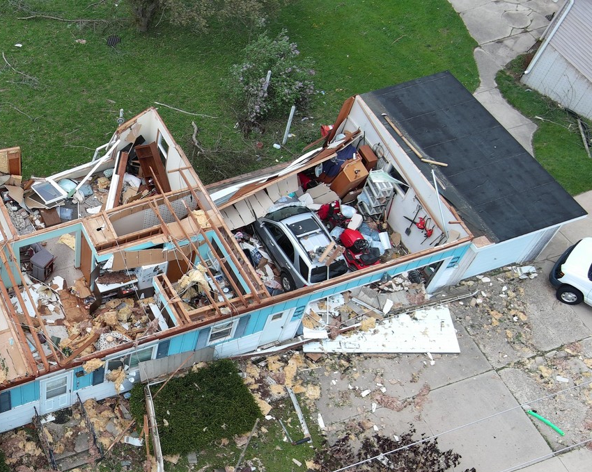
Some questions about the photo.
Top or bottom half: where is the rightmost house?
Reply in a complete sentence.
The rightmost house sits in the top half of the picture.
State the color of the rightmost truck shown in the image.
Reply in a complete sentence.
The rightmost truck looks white in the image.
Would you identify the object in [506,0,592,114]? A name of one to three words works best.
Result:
house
